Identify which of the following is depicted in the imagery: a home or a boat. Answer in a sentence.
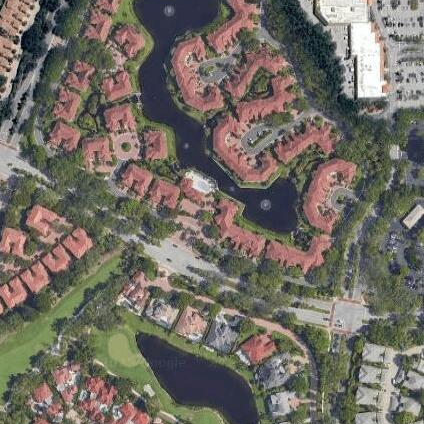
I can see a home in this picture.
